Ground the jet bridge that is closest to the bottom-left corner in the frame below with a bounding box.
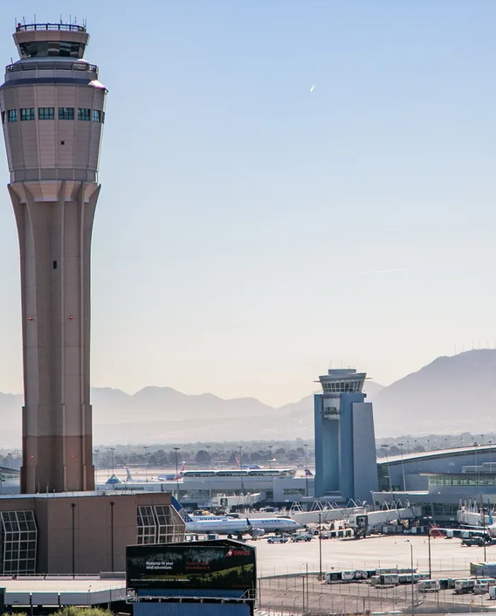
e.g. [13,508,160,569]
[211,488,270,516]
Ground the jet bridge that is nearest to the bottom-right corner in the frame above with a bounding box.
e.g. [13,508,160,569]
[453,494,496,533]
